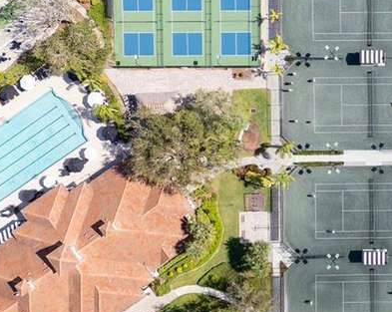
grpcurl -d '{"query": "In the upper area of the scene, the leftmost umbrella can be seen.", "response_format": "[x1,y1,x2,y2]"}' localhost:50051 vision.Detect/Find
[1,87,18,102]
